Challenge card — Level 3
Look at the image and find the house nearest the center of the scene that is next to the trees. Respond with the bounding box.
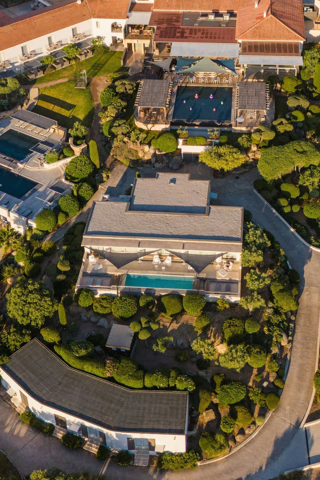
[75,172,244,305]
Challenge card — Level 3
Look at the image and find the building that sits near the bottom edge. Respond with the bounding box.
[0,337,189,457]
